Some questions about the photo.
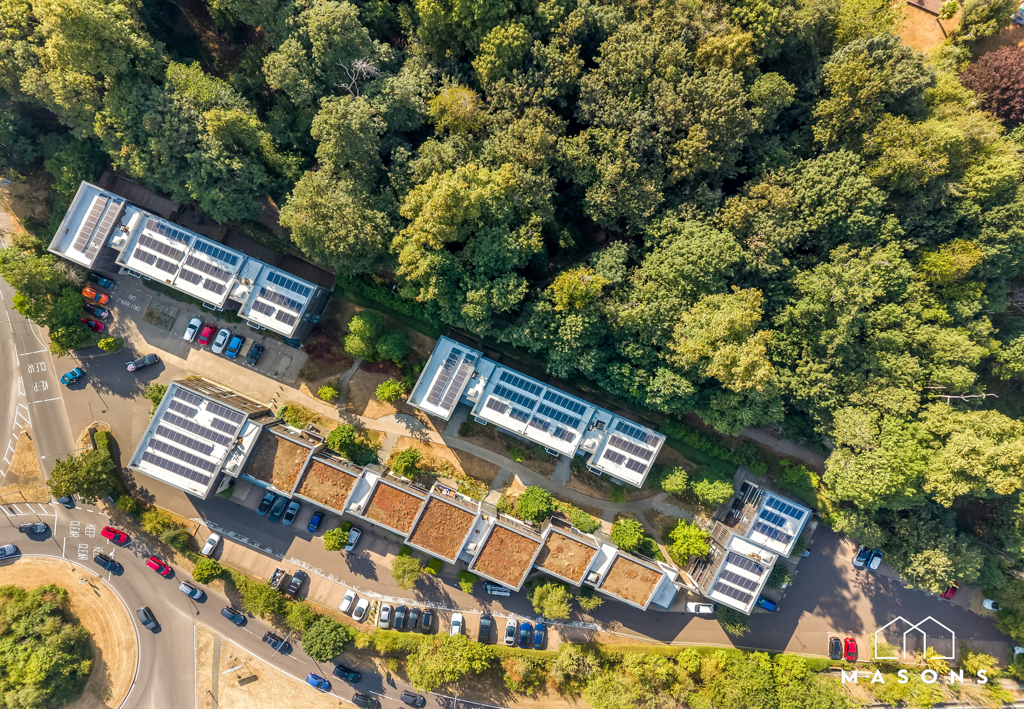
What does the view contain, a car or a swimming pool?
car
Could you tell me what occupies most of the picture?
trees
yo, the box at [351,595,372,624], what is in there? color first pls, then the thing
white car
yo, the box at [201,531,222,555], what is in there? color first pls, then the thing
white car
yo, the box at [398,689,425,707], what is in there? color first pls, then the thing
gray car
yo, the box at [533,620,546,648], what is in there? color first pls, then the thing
blue vehicle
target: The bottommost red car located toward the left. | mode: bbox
[143,555,173,577]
